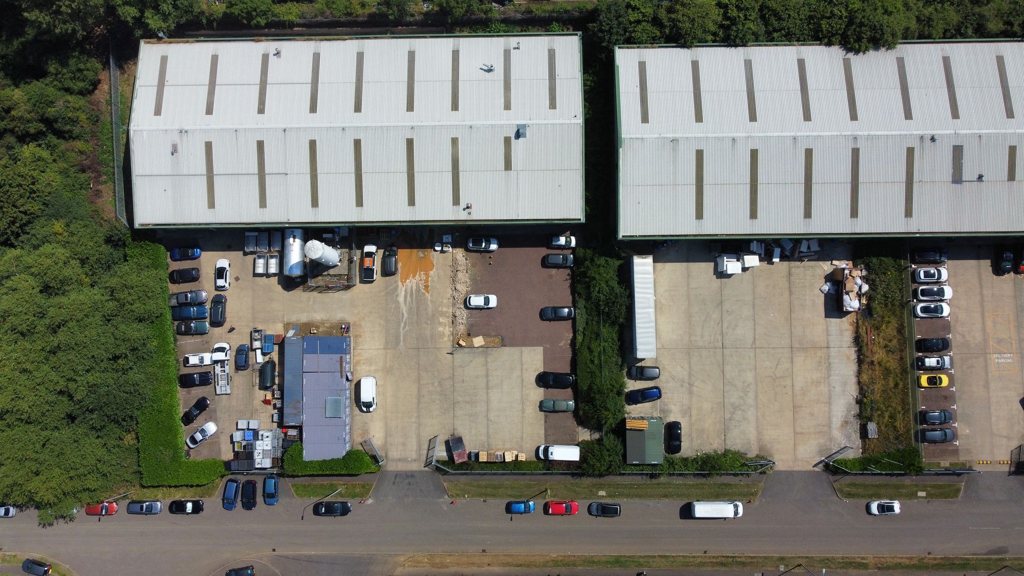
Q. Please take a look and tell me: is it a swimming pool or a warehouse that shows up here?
warehouse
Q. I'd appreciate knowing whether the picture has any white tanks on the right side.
No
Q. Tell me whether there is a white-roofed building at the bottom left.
No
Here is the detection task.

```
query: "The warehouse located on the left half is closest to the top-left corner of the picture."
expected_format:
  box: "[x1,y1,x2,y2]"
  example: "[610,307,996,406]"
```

[128,32,586,234]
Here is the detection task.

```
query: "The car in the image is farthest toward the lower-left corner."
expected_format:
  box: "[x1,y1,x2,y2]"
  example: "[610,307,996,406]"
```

[22,556,54,576]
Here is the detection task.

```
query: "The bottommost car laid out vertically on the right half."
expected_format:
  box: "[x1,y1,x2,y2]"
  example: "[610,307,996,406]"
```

[667,421,683,455]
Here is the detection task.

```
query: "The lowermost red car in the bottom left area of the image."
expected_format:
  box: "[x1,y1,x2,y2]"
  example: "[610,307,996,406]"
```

[86,500,120,517]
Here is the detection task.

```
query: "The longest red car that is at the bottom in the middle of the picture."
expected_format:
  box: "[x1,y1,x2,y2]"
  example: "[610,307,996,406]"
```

[545,500,579,516]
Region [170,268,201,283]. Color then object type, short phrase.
black car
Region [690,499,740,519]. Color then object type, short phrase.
white vehicle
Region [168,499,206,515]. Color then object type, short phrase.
black car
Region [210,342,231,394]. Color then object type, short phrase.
white truck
